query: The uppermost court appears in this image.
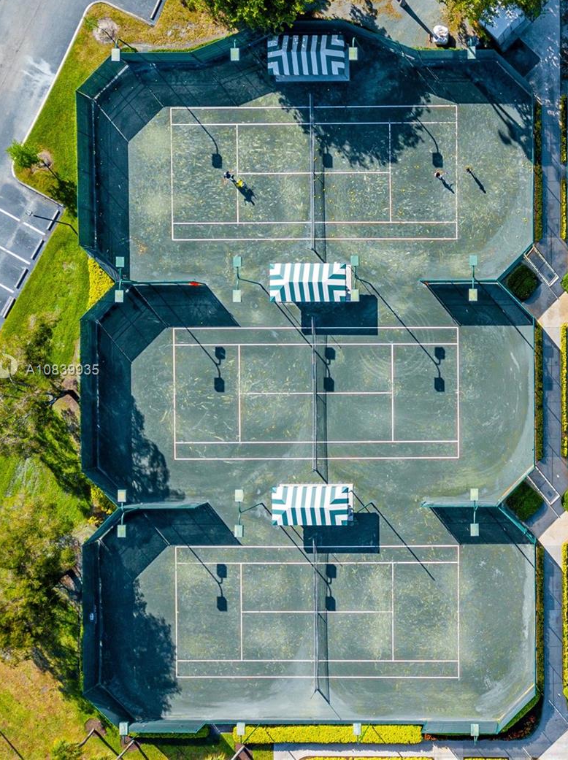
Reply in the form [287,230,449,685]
[96,34,534,288]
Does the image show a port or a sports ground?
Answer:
sports ground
